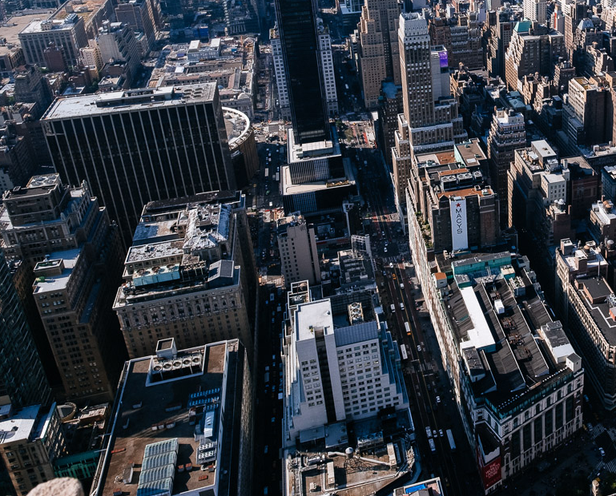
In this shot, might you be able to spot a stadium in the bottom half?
No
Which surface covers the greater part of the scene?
buildings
